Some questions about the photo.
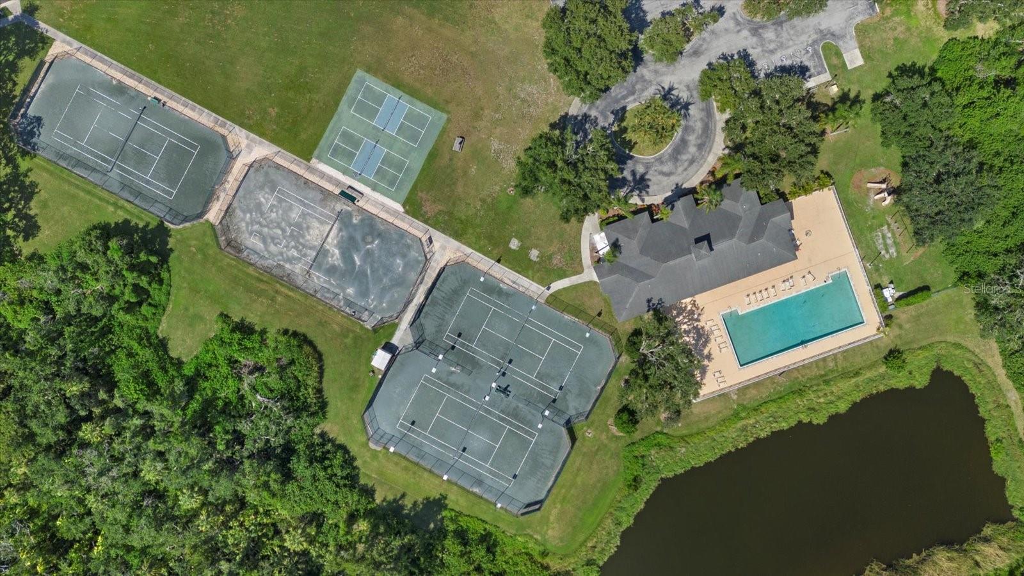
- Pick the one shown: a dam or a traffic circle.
traffic circle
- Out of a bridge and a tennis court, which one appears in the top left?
tennis court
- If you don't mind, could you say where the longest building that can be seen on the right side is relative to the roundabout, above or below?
below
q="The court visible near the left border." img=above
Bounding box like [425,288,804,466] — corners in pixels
[23,55,233,223]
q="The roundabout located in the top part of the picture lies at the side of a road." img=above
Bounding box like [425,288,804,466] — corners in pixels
[614,96,680,156]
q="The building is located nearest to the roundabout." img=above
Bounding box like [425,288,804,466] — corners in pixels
[594,179,800,321]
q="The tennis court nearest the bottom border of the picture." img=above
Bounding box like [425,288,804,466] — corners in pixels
[366,350,570,511]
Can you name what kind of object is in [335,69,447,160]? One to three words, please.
sports court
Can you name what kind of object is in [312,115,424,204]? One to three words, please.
sports court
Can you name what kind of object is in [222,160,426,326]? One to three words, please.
tennis court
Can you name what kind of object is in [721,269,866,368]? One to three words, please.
swimming pool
